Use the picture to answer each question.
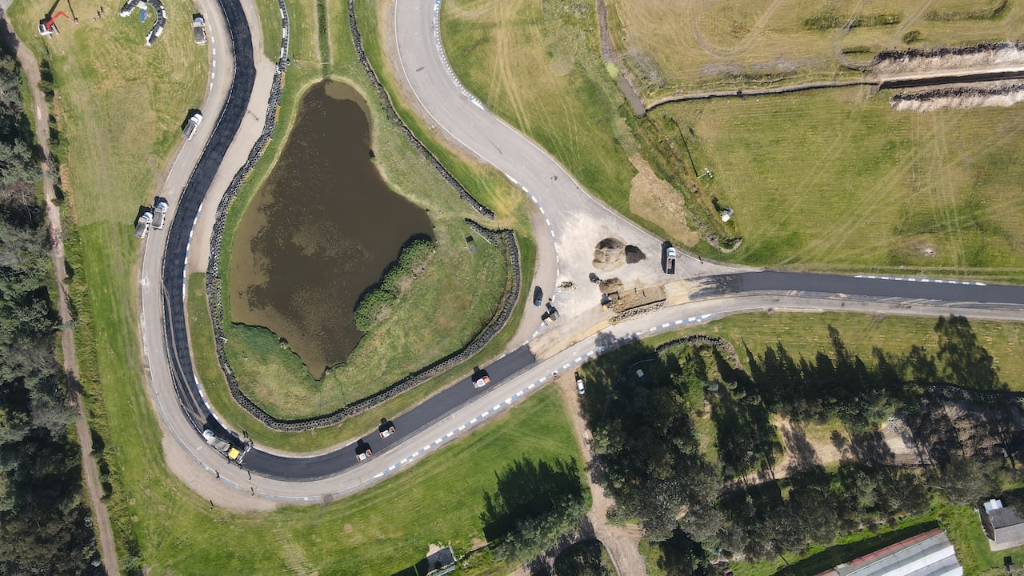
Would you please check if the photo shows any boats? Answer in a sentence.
No, I can see no boat in this picture.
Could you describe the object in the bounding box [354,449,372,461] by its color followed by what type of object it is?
white vehicle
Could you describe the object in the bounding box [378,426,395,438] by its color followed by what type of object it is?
white vehicle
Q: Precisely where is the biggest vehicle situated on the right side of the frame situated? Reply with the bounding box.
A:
[664,244,676,273]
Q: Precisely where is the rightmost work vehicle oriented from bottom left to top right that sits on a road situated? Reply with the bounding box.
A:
[544,308,562,327]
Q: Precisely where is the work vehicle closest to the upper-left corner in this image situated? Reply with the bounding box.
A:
[38,16,76,40]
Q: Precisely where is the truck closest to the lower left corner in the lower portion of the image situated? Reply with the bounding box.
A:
[199,429,228,455]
